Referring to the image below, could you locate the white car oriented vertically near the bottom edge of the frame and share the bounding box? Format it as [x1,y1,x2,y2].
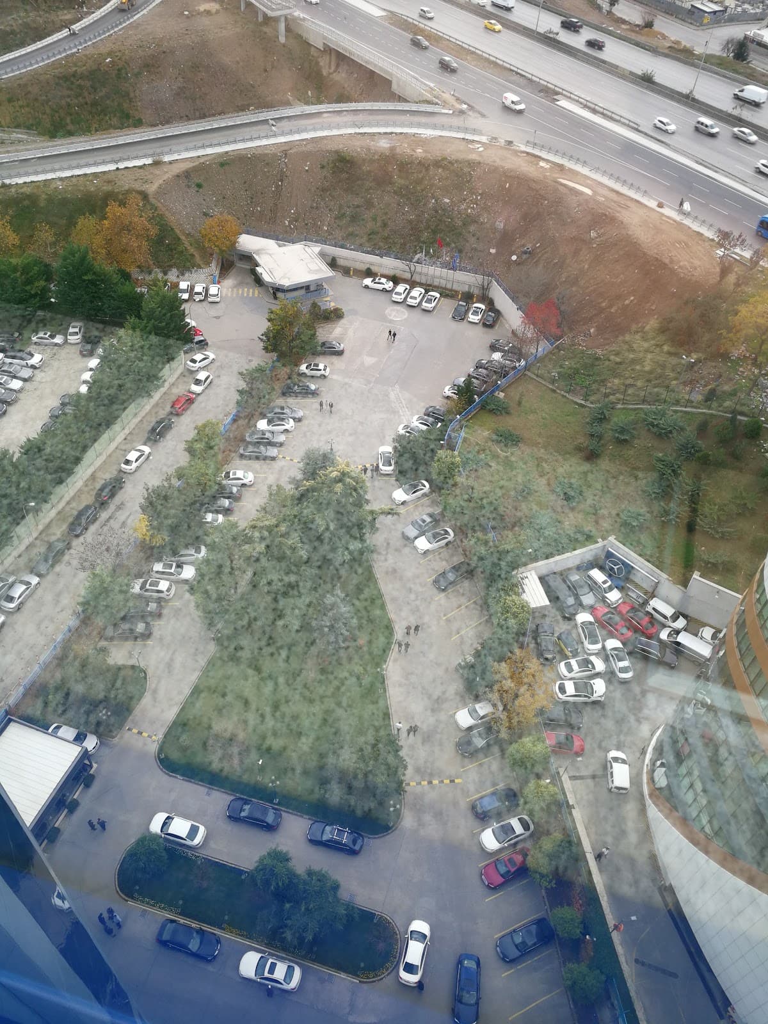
[399,918,431,990]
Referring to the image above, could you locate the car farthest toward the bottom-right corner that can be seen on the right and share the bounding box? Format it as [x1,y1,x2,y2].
[496,916,557,966]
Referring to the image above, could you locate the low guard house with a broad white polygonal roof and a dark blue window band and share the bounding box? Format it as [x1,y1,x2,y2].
[253,228,336,306]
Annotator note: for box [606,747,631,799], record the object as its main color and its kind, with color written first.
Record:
white car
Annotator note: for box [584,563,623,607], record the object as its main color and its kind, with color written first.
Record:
white car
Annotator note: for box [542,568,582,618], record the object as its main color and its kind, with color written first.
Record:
gray van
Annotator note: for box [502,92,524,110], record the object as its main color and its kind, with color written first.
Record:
white vehicle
